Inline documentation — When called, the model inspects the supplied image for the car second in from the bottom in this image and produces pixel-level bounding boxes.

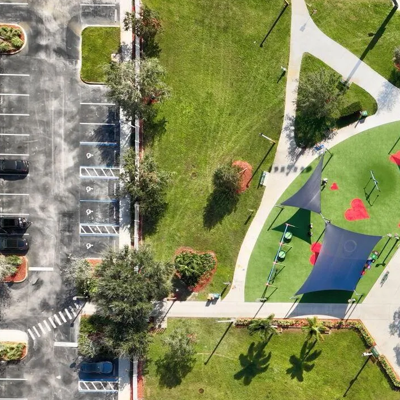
[0,237,29,251]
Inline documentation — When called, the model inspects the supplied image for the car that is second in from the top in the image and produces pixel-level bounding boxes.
[0,216,29,229]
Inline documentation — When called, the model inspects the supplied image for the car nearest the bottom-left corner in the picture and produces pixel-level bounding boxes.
[80,360,113,375]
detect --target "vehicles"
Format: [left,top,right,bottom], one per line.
[0,216,29,229]
[0,237,29,251]
[0,158,32,173]
[80,360,113,375]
